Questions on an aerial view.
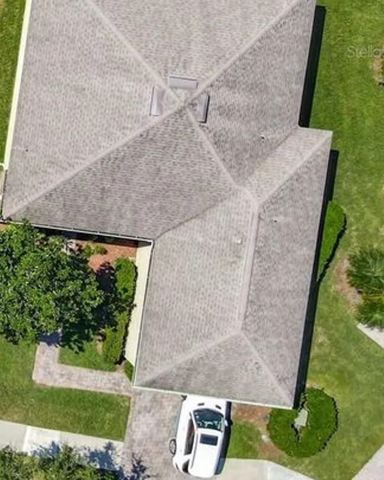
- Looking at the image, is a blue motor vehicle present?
No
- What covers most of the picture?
buildings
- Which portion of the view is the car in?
bottom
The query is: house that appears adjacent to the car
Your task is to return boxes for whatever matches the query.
[0,0,334,412]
